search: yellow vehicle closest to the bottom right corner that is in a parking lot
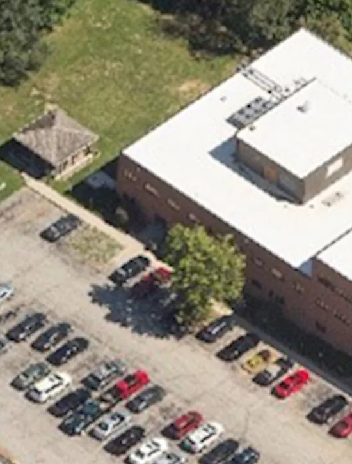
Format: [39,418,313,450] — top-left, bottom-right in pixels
[238,347,276,378]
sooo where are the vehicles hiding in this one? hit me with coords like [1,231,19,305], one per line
[10,356,54,393]
[82,355,124,392]
[198,438,241,464]
[198,313,235,344]
[101,369,151,406]
[126,433,169,464]
[180,418,223,456]
[252,357,293,388]
[6,308,49,345]
[103,424,145,458]
[30,321,72,354]
[272,369,312,400]
[48,386,91,420]
[225,448,261,464]
[308,393,350,427]
[90,410,132,442]
[219,327,261,364]
[38,213,80,245]
[161,405,204,444]
[47,336,90,368]
[0,308,16,321]
[125,384,167,417]
[129,267,166,299]
[59,397,108,438]
[238,347,276,378]
[109,254,150,287]
[28,368,71,404]
[330,412,352,440]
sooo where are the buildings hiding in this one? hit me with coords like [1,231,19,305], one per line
[123,30,352,357]
[11,108,99,181]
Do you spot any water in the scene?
No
